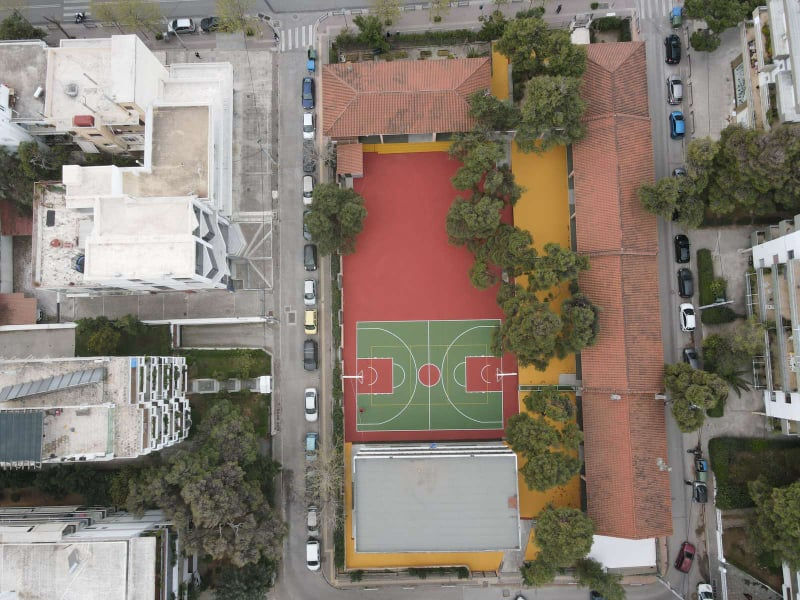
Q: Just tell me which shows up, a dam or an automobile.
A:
automobile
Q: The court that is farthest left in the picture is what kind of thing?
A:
basketball court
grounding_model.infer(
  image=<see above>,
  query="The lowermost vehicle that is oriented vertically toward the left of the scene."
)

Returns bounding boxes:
[305,538,321,571]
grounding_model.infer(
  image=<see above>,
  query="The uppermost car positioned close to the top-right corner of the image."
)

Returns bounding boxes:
[662,35,682,66]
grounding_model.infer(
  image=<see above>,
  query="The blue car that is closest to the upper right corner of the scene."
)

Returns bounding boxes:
[667,111,685,141]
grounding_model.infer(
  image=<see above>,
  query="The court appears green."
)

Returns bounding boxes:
[356,319,504,431]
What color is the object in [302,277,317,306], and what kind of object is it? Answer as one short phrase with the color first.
white car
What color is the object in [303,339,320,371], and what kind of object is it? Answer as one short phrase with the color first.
gray car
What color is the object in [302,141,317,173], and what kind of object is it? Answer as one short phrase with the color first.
gray car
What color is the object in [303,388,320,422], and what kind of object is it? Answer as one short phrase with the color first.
white car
